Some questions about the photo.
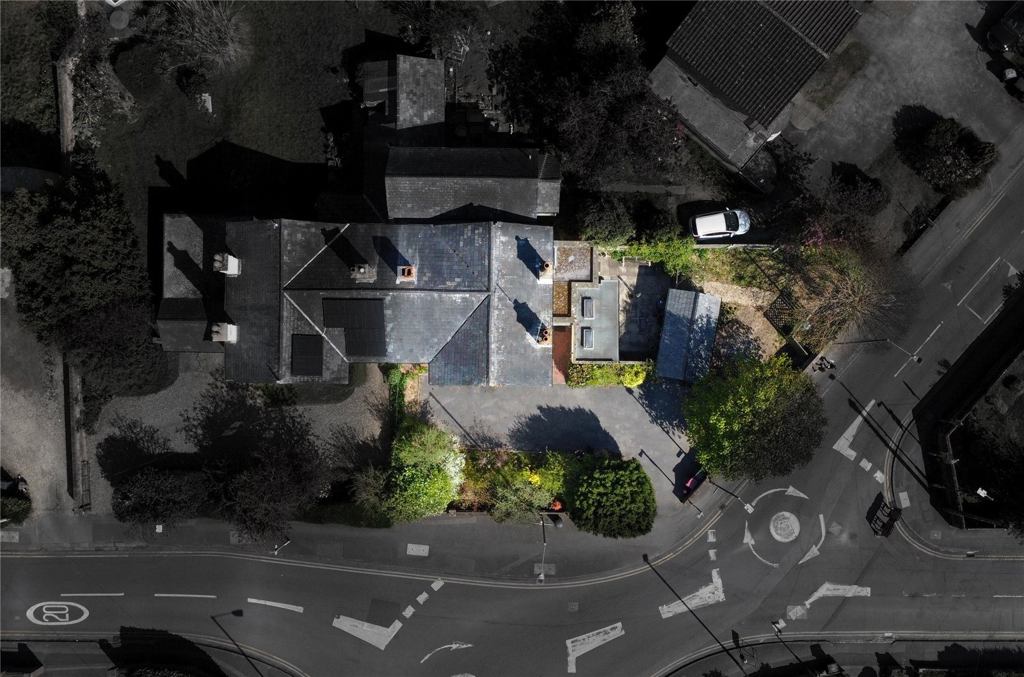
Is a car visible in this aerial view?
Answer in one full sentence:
Yes, there's a car here.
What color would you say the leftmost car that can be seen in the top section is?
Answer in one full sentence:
In this view, the leftmost car that can be seen in the top section is white.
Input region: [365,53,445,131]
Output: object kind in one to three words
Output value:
barn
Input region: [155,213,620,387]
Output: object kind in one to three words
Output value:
house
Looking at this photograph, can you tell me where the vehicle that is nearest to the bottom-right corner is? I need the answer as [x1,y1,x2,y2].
[676,461,720,503]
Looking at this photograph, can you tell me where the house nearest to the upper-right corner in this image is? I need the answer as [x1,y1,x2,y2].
[647,0,853,176]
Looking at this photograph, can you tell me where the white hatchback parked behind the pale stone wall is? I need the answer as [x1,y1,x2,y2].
[685,210,749,244]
